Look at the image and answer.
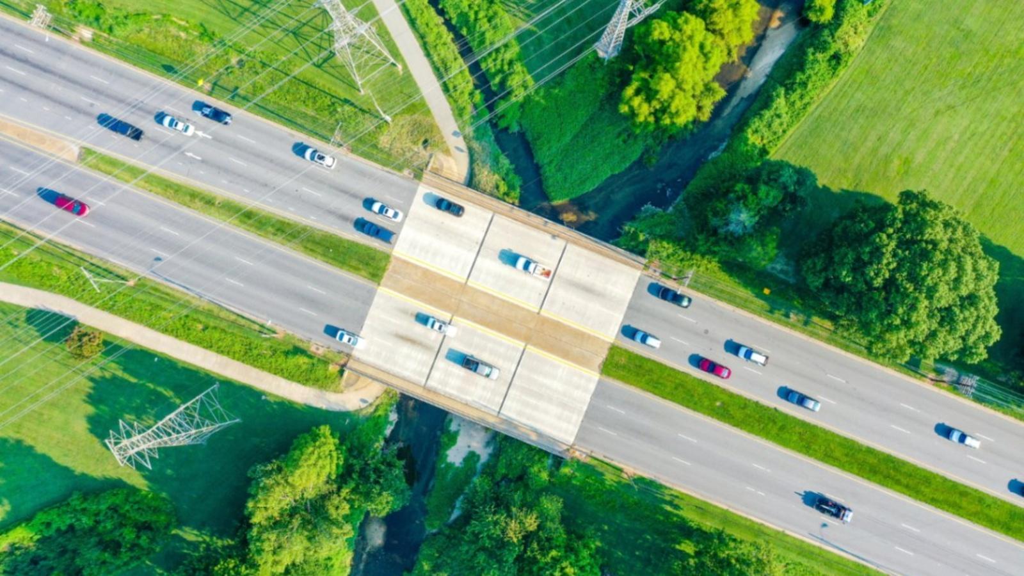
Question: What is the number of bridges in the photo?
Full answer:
The picture shows 1 bridge.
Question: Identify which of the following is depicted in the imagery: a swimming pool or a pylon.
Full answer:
Visible in the photo is a pylon.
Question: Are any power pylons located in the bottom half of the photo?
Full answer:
Yes, a power pylon appears in the bottom half of the photo.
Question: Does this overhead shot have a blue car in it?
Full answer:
Yes, this view includes a blue car.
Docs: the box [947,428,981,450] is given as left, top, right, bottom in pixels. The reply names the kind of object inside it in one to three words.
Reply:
car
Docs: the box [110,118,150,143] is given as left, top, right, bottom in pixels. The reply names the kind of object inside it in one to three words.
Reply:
truck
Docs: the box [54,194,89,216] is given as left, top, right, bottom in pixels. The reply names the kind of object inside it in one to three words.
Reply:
car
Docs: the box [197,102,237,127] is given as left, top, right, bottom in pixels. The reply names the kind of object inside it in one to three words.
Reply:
truck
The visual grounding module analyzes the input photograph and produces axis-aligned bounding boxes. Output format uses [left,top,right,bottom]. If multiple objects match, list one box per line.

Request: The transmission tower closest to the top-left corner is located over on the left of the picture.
[314,0,404,97]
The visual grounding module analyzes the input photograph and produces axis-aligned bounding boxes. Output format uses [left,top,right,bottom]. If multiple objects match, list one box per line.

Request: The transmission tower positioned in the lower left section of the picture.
[104,381,242,468]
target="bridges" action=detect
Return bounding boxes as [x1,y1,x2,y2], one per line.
[335,164,659,461]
